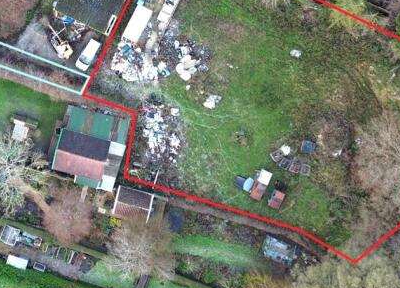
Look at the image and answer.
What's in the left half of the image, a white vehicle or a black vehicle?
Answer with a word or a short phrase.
white vehicle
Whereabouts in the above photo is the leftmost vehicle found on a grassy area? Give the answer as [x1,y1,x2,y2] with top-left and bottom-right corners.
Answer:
[118,0,154,46]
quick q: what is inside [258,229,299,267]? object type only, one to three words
greenhouse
